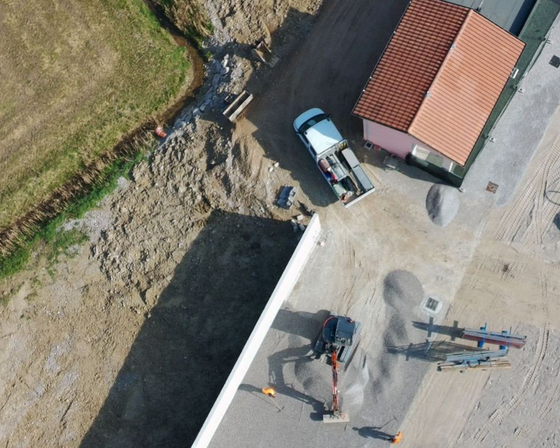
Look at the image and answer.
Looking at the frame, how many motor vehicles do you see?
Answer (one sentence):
The picture shows 2 motor vehicles.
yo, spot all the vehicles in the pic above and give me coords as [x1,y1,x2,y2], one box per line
[296,106,375,206]
[312,312,364,420]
